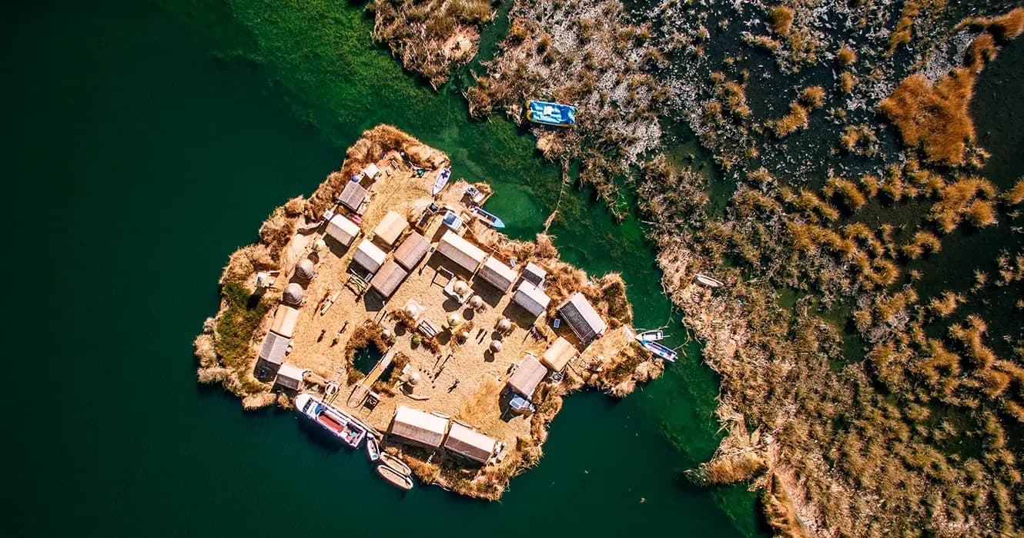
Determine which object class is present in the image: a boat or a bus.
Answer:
boat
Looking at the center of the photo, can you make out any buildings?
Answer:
Yes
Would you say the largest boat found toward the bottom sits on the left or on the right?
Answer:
left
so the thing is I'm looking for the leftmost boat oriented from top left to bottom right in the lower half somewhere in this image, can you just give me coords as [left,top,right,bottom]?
[294,397,365,448]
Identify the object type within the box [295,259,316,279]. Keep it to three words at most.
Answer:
shed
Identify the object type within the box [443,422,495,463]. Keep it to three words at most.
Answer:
building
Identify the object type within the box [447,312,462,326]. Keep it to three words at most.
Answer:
umbrella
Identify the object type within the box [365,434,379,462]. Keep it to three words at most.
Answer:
boat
